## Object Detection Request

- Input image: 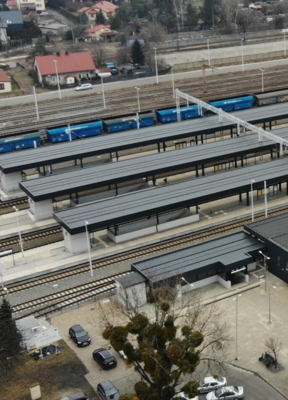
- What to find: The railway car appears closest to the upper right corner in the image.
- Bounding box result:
[252,87,288,106]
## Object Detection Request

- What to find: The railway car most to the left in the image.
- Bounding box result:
[0,129,50,153]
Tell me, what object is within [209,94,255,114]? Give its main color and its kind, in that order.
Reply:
blue rail car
